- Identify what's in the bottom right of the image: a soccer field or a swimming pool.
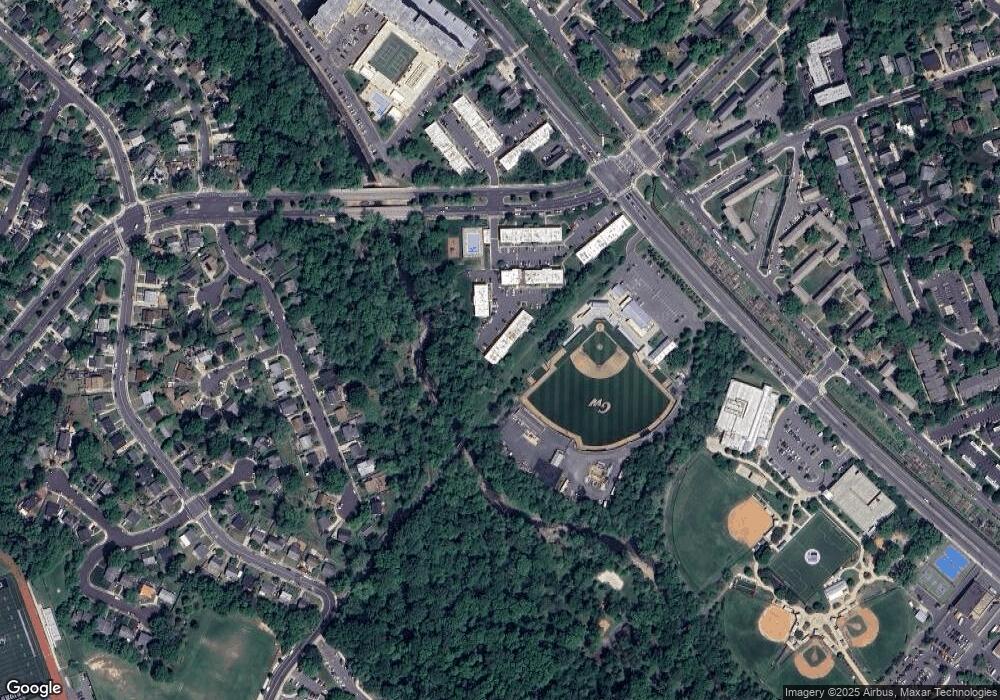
soccer field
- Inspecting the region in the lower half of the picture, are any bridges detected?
No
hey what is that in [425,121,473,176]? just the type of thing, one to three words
building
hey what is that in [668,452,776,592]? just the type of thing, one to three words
baseball field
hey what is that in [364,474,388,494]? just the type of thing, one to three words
house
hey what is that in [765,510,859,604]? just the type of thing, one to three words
soccer field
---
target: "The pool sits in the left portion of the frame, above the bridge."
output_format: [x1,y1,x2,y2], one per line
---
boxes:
[360,88,394,120]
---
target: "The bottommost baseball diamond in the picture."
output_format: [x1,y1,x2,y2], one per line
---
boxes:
[771,635,865,700]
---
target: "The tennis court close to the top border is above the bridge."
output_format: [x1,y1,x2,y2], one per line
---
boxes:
[369,33,417,79]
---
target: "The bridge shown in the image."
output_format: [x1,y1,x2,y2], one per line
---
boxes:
[334,188,422,220]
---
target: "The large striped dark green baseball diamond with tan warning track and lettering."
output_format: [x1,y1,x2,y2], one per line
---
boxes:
[522,319,740,452]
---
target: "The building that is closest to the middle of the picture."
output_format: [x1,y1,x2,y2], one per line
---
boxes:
[486,310,533,364]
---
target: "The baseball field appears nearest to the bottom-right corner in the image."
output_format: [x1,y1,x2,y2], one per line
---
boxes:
[832,589,920,679]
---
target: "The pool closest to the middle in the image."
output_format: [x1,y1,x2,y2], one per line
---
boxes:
[463,227,483,257]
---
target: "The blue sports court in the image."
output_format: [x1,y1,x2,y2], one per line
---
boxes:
[930,546,971,586]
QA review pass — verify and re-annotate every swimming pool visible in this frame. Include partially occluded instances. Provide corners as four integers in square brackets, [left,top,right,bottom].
[360,88,394,120]
[463,227,483,257]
